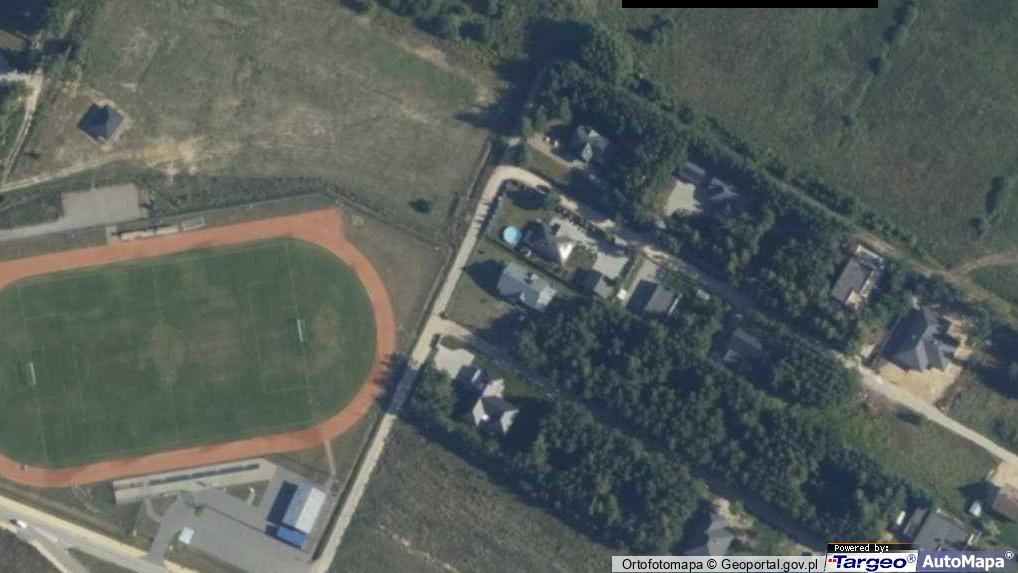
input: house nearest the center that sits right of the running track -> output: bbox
[498,265,556,309]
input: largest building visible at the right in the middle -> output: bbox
[879,308,956,372]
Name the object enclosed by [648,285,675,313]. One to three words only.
house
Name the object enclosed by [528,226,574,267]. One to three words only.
building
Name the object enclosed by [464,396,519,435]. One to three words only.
house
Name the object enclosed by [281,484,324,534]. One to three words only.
building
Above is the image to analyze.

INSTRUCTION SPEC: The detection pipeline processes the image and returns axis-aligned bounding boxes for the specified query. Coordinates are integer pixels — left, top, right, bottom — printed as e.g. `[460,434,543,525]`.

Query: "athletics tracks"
[0,208,393,485]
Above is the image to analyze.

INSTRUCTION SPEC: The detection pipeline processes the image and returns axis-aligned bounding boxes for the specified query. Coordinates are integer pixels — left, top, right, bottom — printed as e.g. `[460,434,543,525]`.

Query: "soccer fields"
[0,236,376,469]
